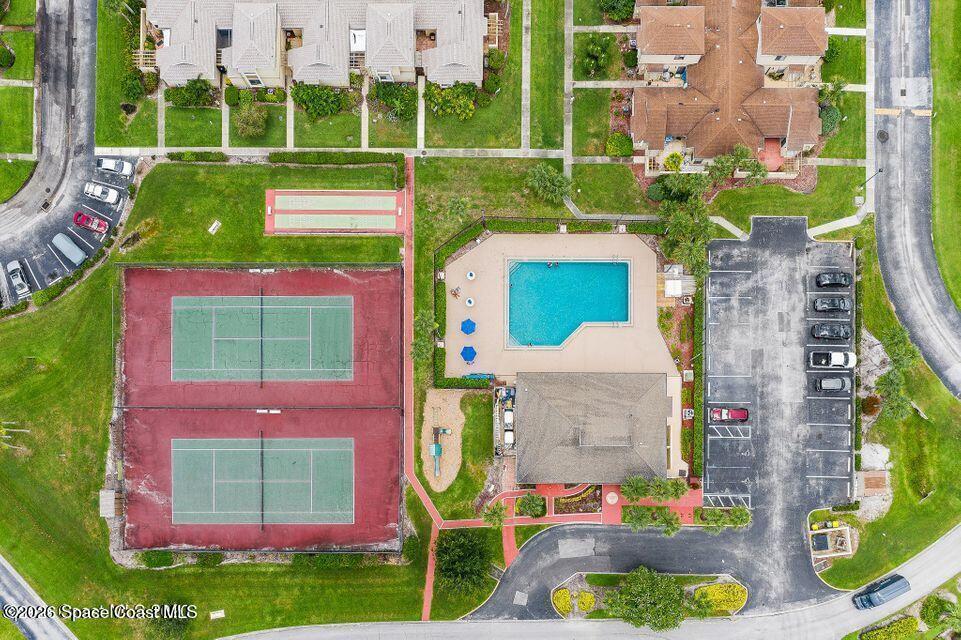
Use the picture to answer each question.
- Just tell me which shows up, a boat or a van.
van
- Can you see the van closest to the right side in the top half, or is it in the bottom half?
bottom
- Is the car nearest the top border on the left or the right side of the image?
left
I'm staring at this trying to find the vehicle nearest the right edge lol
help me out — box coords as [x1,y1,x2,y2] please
[854,572,907,606]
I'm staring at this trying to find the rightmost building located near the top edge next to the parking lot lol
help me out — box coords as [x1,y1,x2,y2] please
[631,0,825,182]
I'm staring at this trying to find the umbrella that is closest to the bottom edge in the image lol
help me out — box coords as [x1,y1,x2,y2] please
[461,346,478,360]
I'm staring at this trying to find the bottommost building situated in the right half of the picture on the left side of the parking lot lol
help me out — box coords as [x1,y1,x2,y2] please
[516,372,673,485]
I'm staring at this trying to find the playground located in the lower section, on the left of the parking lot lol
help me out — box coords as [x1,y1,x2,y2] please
[429,407,452,477]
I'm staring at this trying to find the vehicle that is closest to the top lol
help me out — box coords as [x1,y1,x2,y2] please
[97,158,136,178]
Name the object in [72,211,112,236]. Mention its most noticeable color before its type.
red car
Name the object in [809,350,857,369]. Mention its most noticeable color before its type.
white vehicle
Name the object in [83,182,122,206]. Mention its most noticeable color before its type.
white car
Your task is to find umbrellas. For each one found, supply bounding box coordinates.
[461,318,475,334]
[461,346,478,360]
